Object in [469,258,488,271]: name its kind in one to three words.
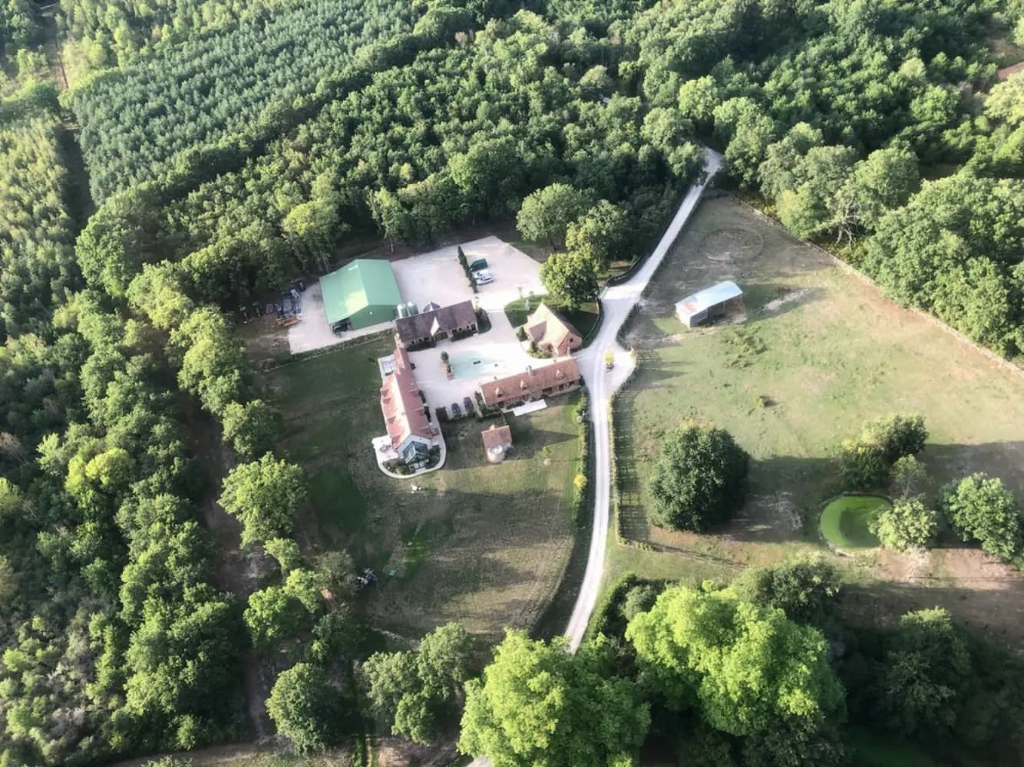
vehicle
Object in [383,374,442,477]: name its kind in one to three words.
house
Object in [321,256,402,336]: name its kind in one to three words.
barn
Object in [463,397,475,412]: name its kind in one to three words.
vehicle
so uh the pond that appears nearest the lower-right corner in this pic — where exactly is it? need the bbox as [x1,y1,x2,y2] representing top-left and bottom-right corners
[821,495,889,549]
